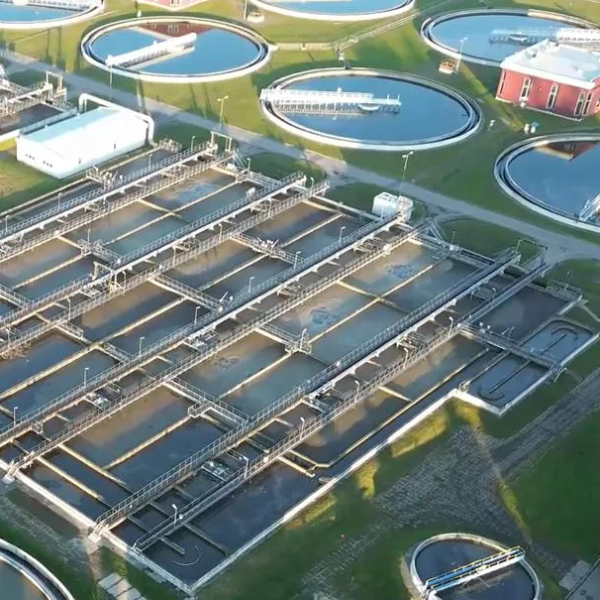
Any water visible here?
Yes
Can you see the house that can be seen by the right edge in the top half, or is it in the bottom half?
top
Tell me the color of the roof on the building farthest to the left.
white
